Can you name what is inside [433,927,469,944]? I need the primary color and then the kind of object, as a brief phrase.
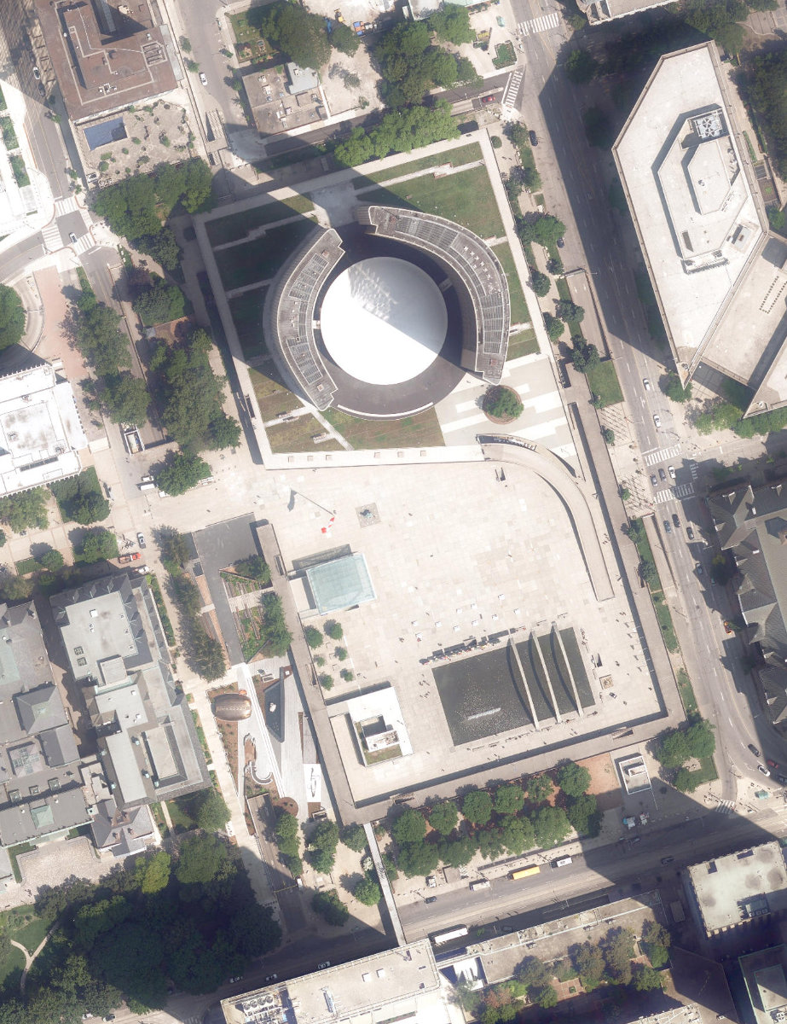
white vehicle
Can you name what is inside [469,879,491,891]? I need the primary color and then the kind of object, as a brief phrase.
white vehicle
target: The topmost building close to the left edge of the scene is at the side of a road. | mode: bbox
[26,0,183,122]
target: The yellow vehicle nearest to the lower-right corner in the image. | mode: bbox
[510,866,542,880]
